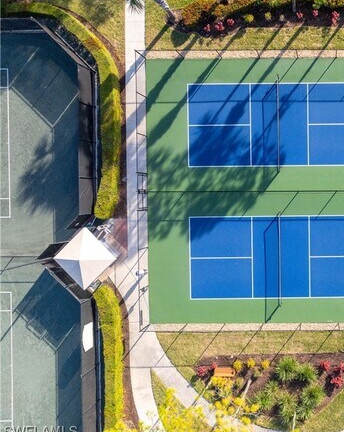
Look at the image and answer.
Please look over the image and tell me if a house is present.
No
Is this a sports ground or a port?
sports ground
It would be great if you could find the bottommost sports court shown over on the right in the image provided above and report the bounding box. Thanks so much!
[147,191,344,324]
